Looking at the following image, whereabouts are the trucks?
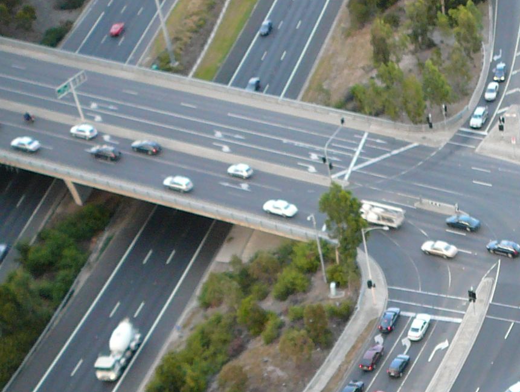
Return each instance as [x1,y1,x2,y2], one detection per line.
[92,316,138,380]
[356,198,411,229]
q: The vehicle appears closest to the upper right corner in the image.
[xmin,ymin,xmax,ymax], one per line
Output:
[493,63,506,82]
